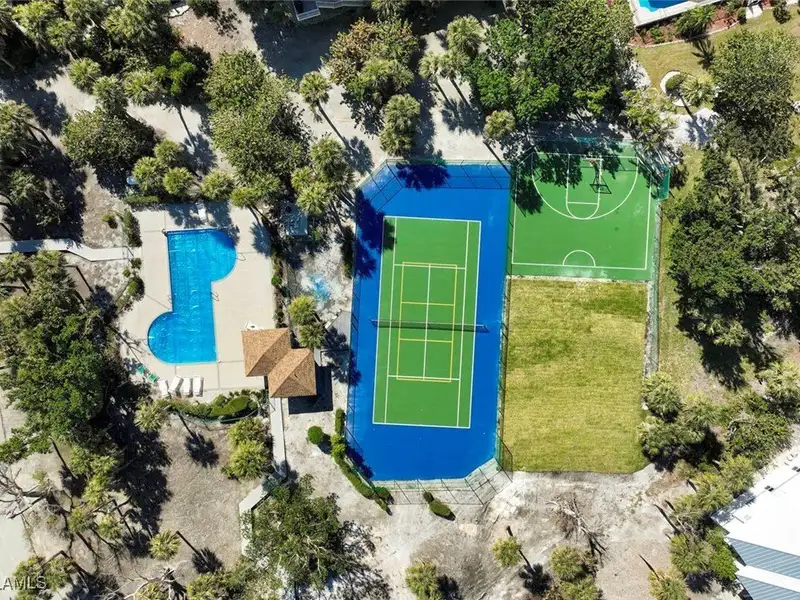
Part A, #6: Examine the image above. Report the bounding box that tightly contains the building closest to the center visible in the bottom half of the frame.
[242,328,319,398]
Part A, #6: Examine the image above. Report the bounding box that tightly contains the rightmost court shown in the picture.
[509,145,660,281]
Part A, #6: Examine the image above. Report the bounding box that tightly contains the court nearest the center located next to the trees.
[345,164,511,480]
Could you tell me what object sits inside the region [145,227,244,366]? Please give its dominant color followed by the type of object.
blue swimming pool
